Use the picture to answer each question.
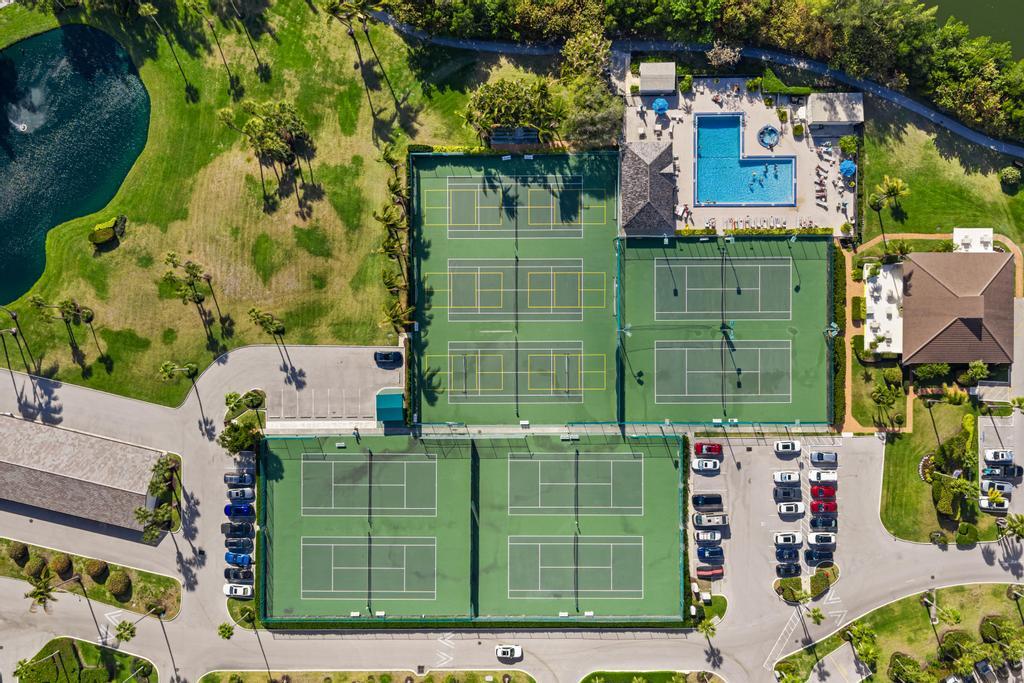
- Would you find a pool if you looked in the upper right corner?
Yes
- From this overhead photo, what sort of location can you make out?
sports ground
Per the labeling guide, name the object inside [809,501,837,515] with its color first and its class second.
red car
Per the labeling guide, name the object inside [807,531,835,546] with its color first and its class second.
white car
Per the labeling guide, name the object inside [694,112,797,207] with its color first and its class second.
blue swimming pool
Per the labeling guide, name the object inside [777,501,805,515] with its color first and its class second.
white car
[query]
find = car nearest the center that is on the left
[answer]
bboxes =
[375,351,402,365]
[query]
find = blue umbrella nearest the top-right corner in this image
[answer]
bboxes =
[838,160,855,177]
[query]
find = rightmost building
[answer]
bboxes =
[897,252,1014,384]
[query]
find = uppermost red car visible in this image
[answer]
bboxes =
[694,443,722,457]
